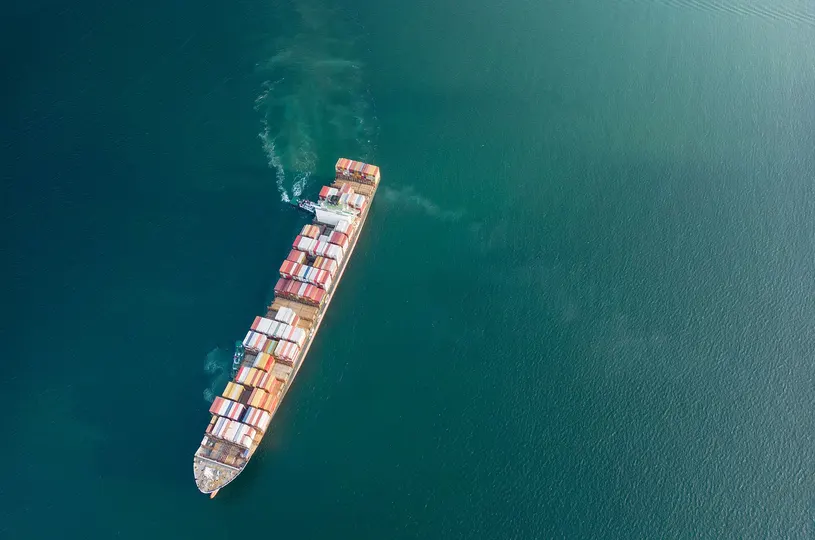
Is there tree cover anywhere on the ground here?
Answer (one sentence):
No, no tree cover is visible.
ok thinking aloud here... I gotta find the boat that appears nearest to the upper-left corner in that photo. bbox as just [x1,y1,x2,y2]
[290,198,316,213]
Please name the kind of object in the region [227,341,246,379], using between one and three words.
boat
